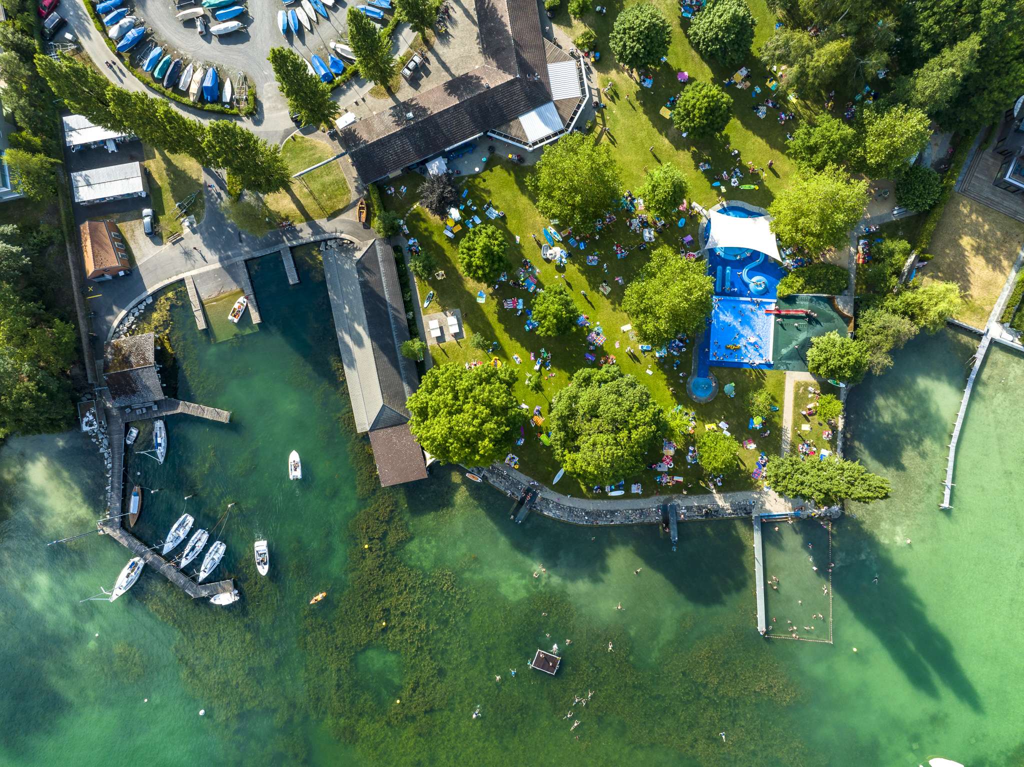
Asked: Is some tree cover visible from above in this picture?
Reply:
Yes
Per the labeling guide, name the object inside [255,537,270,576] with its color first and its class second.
white boat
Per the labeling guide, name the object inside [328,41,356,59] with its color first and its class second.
white boat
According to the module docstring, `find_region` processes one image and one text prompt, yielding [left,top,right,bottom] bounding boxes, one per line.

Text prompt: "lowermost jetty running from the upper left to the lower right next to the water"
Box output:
[98,514,202,599]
